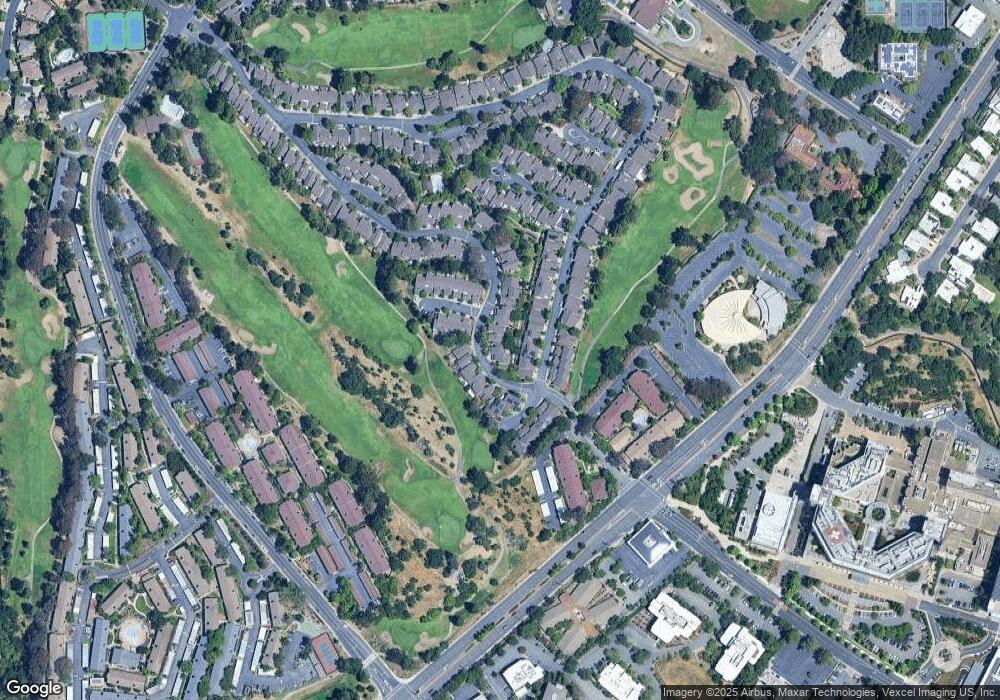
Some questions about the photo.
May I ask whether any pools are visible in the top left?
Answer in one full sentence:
Yes, a pool appears in the top left.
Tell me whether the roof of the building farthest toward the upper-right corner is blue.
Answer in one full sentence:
No, the roof of the building farthest toward the upper-right corner is actually white.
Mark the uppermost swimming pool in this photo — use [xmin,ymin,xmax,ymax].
[56,48,74,64]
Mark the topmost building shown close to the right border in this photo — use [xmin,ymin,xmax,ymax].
[953,4,987,37]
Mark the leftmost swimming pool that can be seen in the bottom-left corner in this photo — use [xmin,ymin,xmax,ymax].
[118,617,147,647]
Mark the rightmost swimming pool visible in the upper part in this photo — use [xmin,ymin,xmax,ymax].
[431,174,443,193]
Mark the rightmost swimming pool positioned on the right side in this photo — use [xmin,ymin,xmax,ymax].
[632,407,650,428]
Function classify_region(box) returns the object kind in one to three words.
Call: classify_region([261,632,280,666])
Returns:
building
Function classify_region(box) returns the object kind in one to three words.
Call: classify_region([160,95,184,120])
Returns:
swimming pool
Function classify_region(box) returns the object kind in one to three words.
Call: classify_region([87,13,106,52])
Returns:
tennis court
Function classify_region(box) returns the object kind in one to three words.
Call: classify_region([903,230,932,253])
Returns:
house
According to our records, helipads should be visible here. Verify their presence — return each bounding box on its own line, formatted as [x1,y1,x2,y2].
[829,527,849,547]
